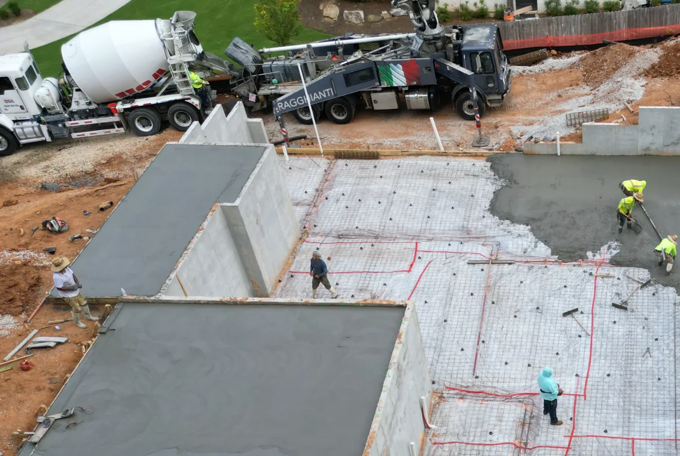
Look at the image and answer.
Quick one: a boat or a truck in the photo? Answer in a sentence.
The one in the frame is a truck.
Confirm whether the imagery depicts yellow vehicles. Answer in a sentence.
No, the scene contains no yellow vehicle.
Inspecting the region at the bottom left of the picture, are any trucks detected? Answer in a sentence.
No, there's no truck to be seen at the bottom left of the picture.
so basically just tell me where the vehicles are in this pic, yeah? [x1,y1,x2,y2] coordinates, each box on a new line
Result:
[0,7,251,150]
[212,0,514,145]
